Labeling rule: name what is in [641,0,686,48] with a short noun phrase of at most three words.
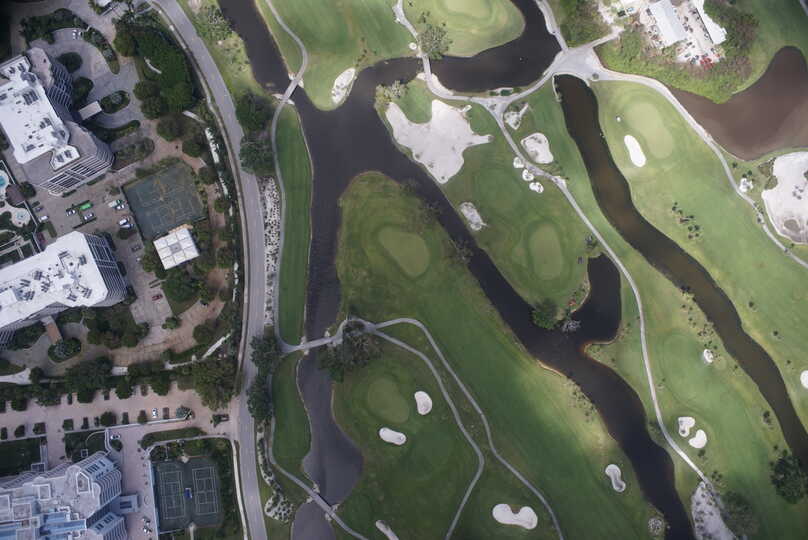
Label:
shed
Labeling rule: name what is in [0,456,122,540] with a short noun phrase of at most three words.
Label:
building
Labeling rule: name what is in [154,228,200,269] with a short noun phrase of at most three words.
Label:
building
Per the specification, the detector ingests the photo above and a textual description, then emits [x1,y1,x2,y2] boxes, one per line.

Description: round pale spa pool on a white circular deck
[11,207,30,226]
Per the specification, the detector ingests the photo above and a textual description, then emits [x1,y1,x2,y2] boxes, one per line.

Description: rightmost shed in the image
[690,0,726,46]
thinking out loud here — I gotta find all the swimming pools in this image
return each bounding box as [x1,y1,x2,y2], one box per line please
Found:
[11,207,30,226]
[0,171,9,193]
